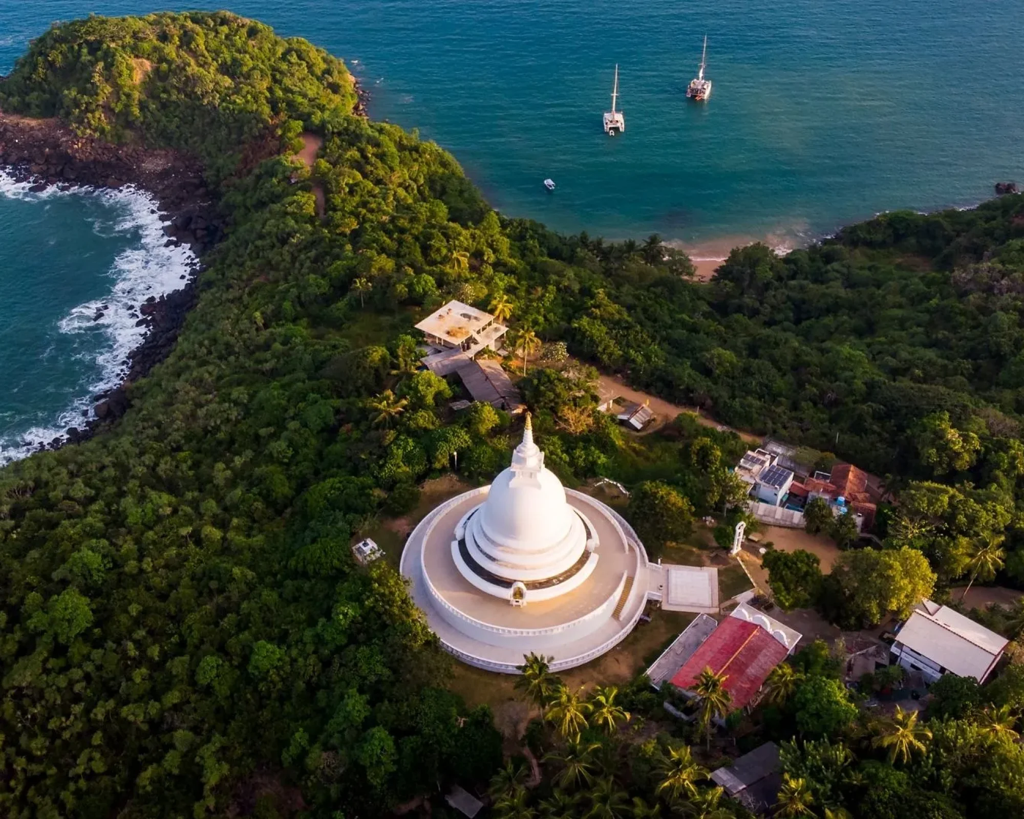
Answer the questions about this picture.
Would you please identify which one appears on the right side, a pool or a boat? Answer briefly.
boat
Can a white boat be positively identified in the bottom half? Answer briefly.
No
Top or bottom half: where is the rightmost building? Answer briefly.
bottom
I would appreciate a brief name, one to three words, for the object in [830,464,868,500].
house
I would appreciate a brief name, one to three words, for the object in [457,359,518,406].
shed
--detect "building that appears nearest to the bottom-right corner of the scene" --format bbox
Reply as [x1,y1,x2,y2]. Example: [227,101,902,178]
[884,605,1010,699]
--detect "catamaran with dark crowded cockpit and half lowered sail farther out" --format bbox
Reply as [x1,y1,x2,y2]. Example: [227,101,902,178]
[690,33,709,96]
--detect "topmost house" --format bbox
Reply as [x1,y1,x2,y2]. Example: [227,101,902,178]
[415,300,508,359]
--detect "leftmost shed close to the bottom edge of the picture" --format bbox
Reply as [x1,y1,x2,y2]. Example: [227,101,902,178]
[445,785,483,819]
